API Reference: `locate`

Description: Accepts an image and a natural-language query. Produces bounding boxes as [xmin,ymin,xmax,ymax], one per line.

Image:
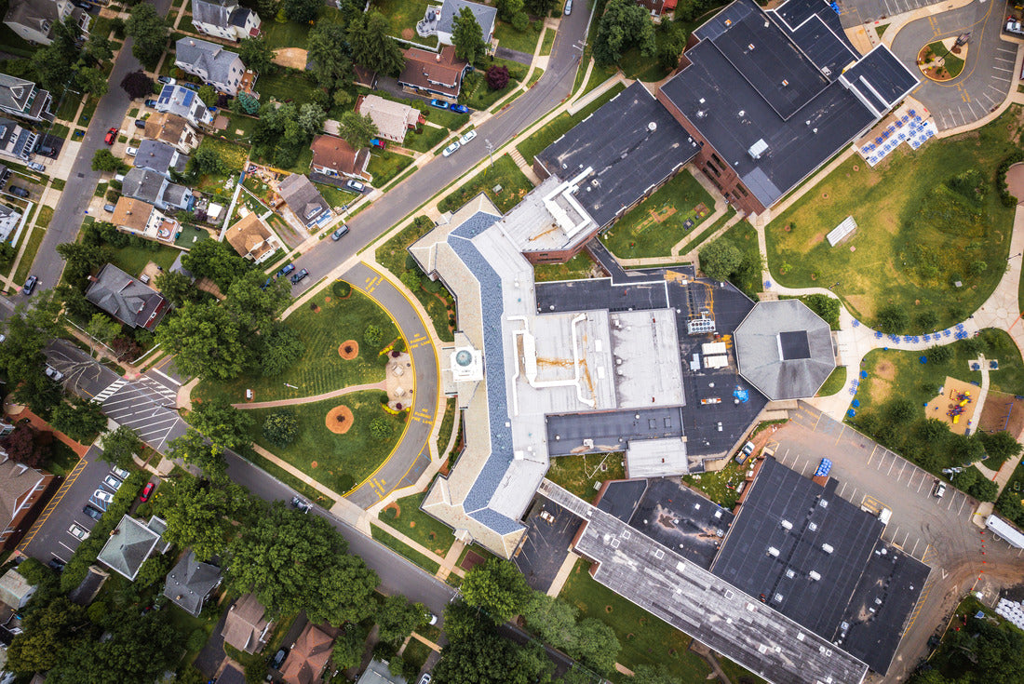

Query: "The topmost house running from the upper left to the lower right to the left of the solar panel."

[0,69,60,125]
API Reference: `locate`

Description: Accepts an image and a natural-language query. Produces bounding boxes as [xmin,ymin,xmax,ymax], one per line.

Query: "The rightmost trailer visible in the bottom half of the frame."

[974,511,1024,552]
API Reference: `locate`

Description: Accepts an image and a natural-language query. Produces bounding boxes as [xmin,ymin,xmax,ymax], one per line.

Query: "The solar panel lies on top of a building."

[159,85,195,107]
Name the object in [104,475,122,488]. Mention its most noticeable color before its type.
white vehicle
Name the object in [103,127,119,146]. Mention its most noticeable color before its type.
red car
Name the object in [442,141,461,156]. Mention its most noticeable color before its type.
white car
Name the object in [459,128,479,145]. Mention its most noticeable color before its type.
white car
